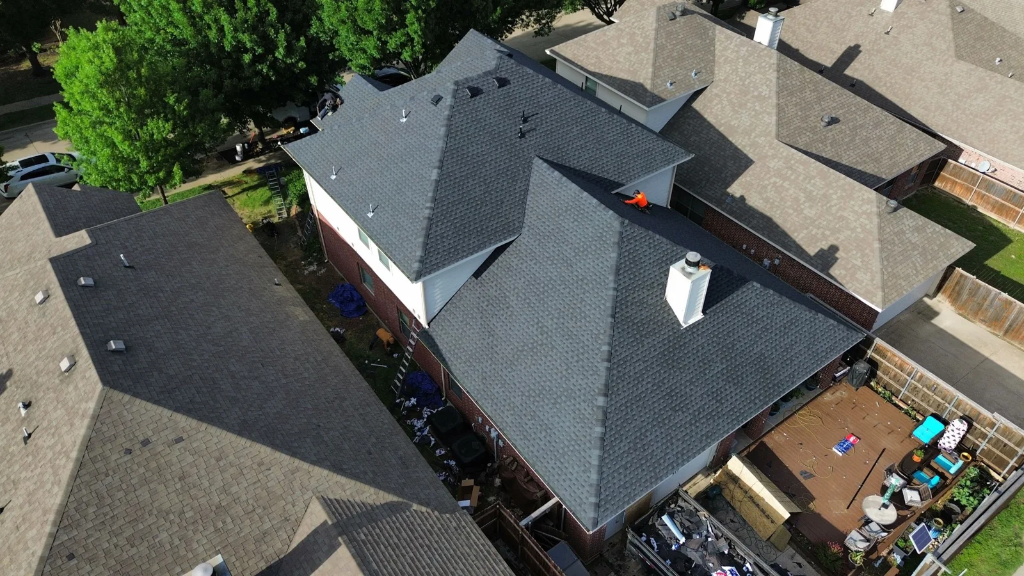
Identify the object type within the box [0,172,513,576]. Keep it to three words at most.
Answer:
house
